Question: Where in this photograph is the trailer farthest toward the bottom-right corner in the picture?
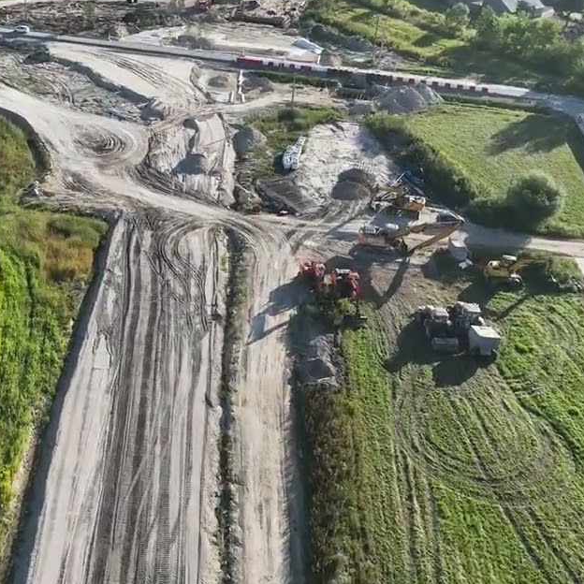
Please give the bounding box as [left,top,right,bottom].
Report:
[473,324,507,352]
